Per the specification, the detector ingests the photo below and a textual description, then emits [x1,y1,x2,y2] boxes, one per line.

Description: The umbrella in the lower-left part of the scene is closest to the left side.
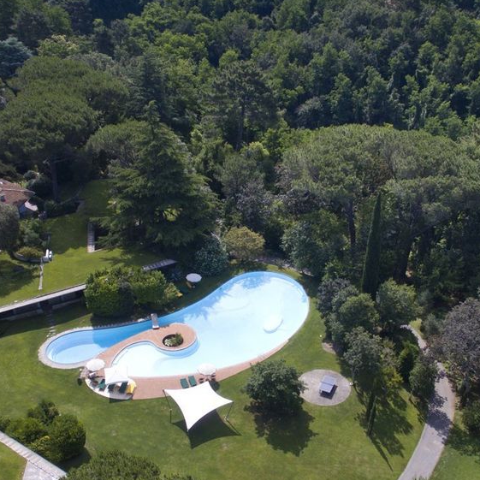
[82,357,108,384]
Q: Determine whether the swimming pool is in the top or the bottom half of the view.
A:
bottom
